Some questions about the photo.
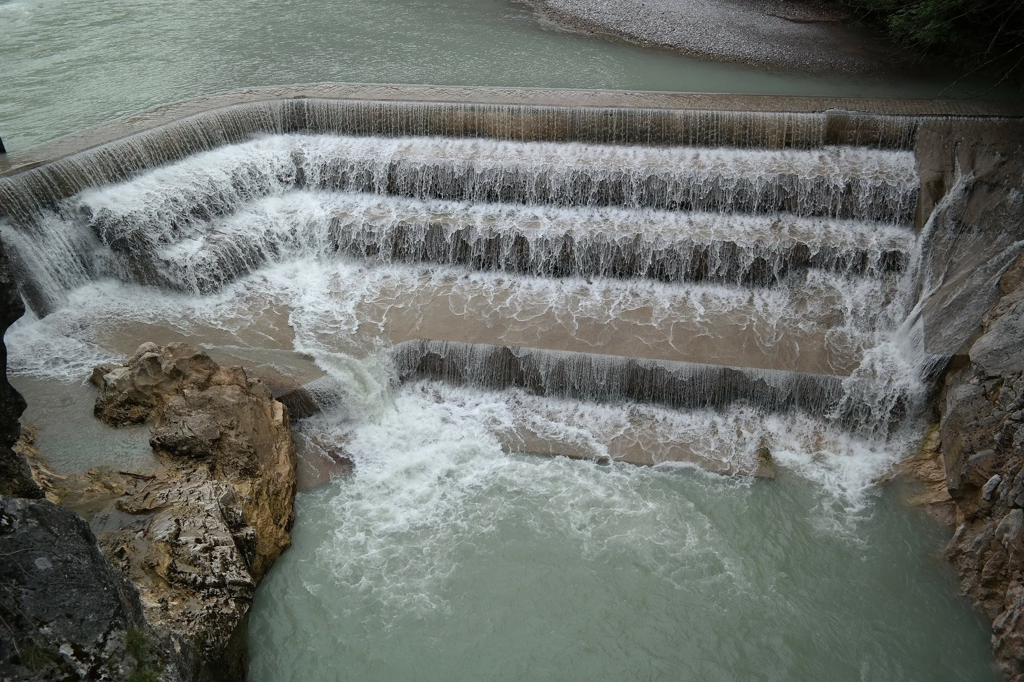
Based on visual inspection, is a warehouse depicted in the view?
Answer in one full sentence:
No, no warehouse is visible in the scene.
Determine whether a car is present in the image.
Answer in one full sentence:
No, I can see no car in this picture.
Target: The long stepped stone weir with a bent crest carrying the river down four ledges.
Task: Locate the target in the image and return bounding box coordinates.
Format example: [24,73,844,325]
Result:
[0,83,1024,483]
